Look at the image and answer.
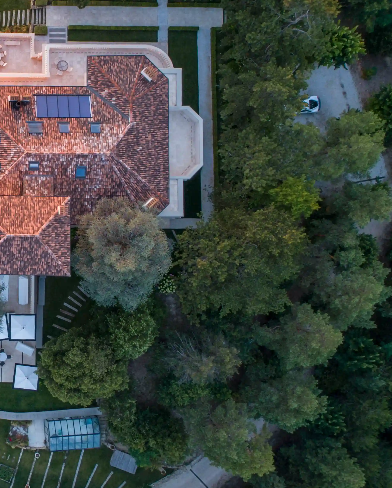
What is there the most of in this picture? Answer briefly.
trees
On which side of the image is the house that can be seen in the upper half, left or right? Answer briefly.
left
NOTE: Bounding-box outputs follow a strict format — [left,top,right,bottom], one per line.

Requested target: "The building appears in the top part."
[0,54,172,227]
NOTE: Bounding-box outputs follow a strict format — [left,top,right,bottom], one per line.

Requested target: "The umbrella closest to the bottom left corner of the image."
[13,363,40,392]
